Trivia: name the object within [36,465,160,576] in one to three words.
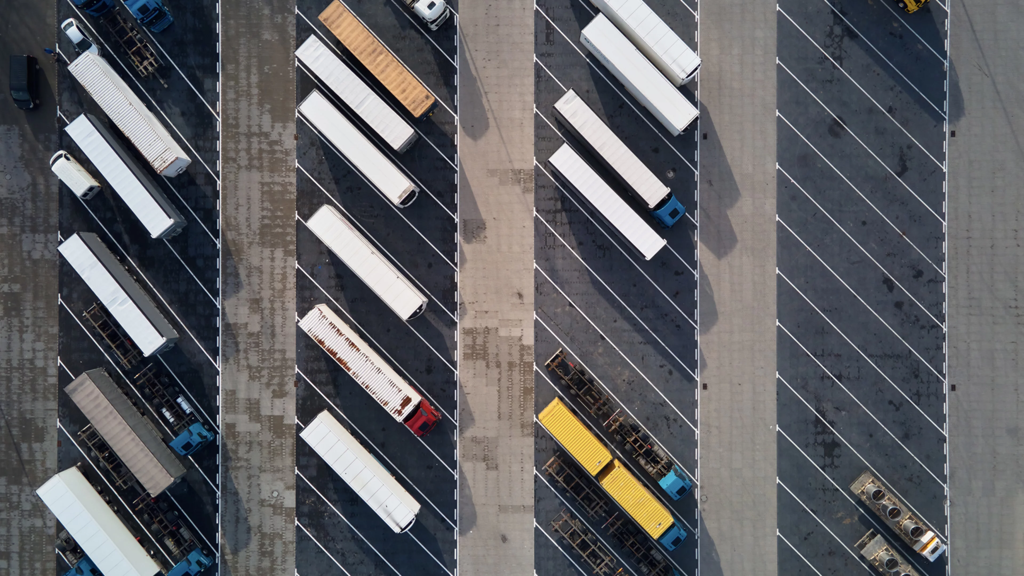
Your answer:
trailer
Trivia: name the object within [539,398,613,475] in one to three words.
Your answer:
shipping container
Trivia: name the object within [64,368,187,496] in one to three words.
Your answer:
trailer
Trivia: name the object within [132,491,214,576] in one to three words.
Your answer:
truck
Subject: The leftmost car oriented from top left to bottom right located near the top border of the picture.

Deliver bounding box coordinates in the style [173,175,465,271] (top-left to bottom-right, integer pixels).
[62,16,104,57]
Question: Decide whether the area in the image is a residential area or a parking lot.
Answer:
parking lot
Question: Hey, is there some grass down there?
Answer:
No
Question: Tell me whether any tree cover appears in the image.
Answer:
No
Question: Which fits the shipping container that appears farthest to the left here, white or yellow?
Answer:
yellow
